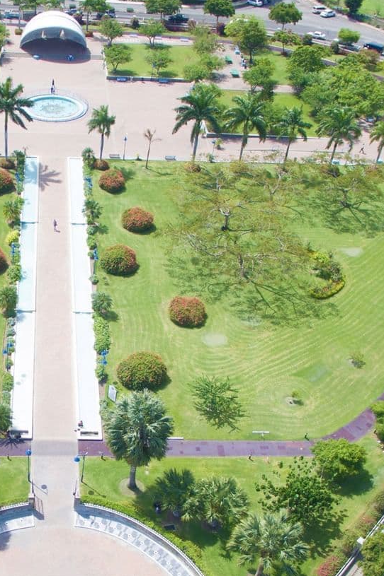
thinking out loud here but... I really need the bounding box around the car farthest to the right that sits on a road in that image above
[362,39,384,51]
